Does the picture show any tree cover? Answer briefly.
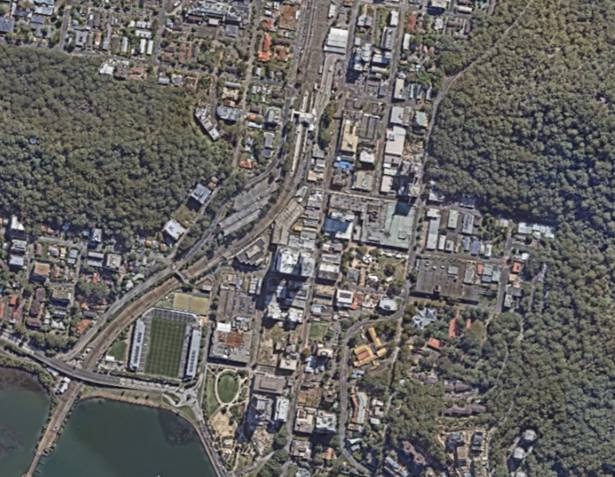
Yes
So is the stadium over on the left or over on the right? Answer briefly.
left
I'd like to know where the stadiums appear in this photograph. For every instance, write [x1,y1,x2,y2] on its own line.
[128,304,202,386]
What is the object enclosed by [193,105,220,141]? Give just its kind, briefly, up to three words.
building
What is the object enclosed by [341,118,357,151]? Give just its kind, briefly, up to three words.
building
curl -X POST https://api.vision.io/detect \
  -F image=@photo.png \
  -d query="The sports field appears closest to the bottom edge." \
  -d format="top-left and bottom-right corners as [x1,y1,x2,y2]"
[145,314,186,379]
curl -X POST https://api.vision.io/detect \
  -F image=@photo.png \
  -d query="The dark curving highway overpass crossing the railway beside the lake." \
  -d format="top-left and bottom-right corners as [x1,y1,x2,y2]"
[0,333,187,400]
